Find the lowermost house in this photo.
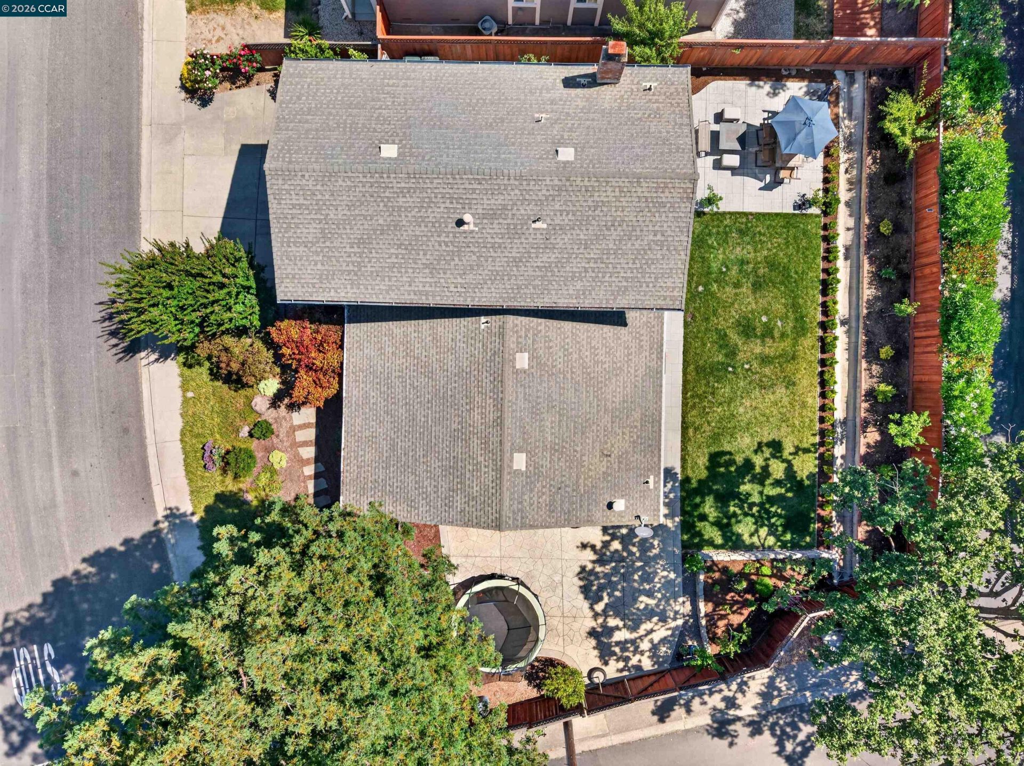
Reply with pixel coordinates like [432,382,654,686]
[263,38,700,531]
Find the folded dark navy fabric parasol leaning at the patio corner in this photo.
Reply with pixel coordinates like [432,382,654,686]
[807,78,842,102]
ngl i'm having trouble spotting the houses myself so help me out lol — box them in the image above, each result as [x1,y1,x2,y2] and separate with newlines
[340,0,727,26]
[263,38,700,531]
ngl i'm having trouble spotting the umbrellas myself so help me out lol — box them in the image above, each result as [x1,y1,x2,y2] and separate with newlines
[807,78,842,102]
[772,96,839,159]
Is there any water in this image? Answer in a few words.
No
